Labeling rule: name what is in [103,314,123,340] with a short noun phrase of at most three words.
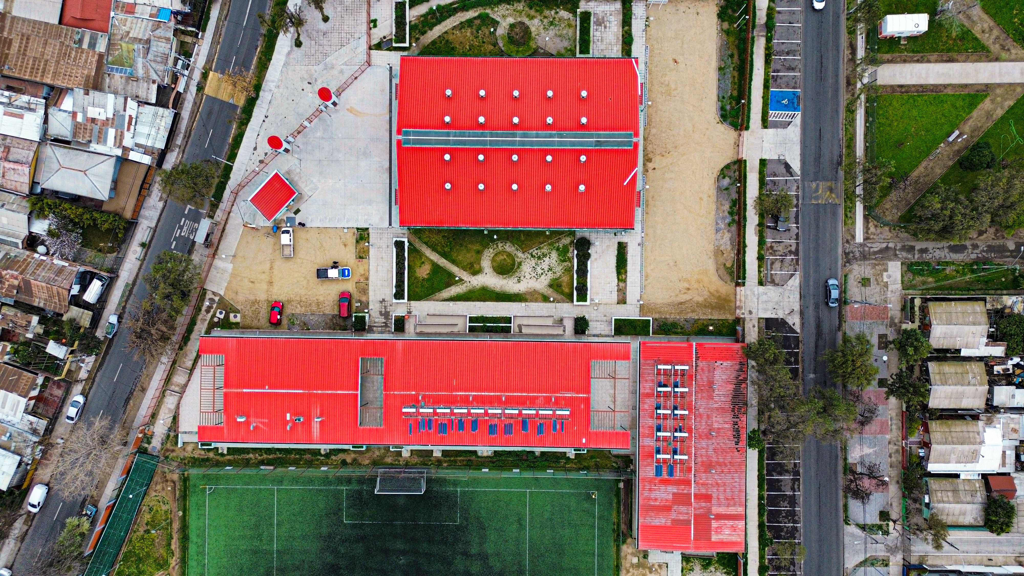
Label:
car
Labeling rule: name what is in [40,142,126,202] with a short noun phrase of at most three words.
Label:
house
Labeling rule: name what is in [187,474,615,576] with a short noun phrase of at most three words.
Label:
soccer field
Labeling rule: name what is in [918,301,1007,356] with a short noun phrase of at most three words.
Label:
house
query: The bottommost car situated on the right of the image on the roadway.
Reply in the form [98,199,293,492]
[824,278,840,308]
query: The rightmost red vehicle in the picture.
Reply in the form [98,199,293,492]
[338,291,352,318]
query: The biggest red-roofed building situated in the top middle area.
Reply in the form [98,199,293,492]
[395,55,643,230]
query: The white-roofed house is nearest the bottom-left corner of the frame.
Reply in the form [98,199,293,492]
[0,442,42,491]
